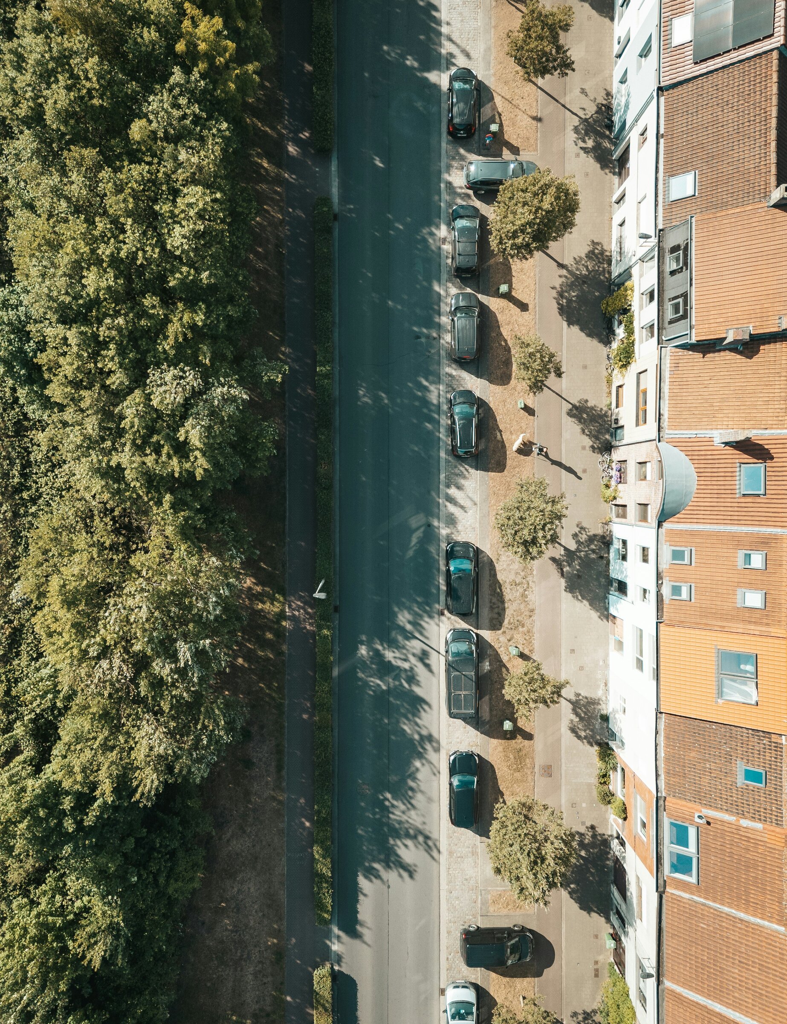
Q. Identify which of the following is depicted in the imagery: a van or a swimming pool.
van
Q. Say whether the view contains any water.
No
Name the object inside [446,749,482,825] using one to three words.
vehicle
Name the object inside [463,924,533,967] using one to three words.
van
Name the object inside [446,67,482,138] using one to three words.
car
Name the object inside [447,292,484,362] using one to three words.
car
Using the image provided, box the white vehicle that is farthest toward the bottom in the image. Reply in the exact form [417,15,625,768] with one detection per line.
[443,979,479,1024]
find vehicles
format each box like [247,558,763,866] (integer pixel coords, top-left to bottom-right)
[443,979,479,1024]
[443,627,481,717]
[463,155,538,194]
[443,541,480,615]
[447,292,484,362]
[463,924,533,967]
[446,67,482,138]
[447,390,482,457]
[448,205,483,277]
[446,749,482,825]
